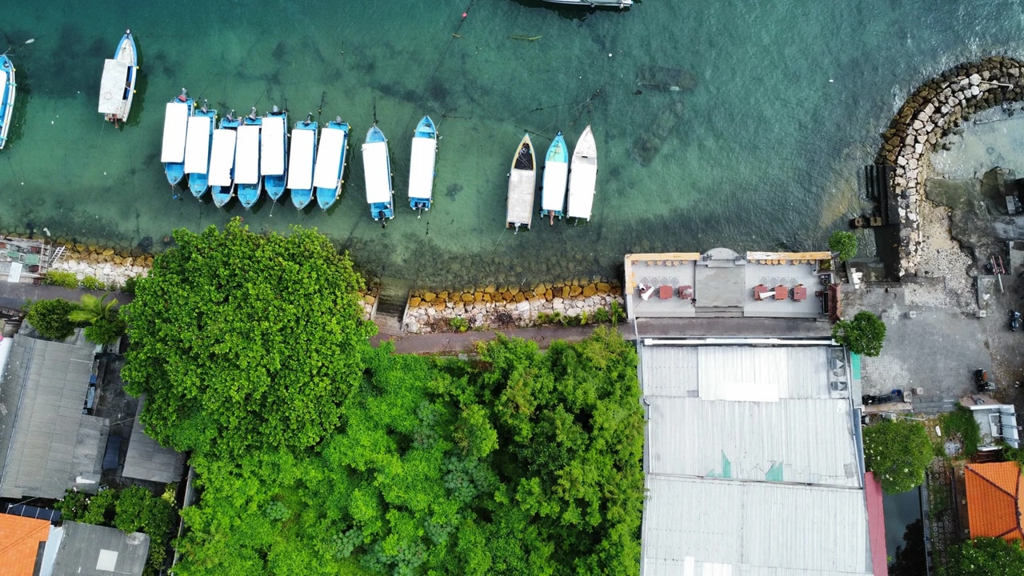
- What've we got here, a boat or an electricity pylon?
boat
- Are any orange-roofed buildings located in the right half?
Yes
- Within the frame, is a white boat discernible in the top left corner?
Yes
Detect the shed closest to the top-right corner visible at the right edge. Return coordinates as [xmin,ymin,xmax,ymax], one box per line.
[980,180,1024,216]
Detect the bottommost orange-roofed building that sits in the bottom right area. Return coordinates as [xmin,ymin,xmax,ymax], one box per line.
[952,461,1024,552]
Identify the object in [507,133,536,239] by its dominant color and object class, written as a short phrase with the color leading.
white boat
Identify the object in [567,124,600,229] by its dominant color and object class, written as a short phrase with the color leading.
white boat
